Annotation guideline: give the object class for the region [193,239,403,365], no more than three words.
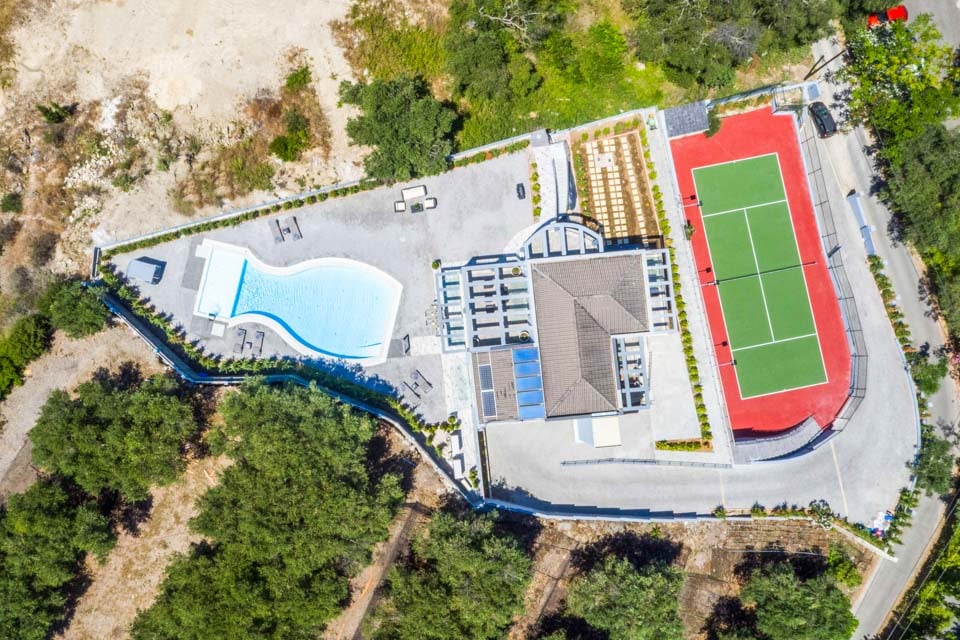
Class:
swimming pool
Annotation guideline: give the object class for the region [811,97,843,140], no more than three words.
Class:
car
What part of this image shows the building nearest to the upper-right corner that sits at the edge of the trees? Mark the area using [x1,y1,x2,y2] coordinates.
[664,99,709,140]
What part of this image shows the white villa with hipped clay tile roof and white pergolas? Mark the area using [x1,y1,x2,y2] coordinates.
[436,220,680,426]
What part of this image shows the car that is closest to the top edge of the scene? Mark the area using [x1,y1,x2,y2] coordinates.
[868,0,915,28]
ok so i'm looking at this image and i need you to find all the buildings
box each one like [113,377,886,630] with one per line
[664,99,709,140]
[436,220,680,426]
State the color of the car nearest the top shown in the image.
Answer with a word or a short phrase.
red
